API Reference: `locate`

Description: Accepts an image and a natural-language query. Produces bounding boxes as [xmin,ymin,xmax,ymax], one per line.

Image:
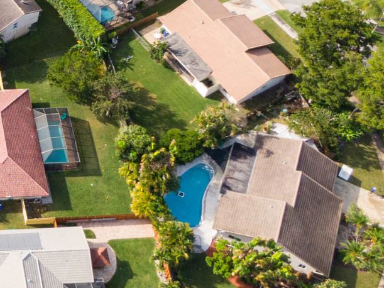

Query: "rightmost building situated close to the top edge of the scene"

[159,0,290,107]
